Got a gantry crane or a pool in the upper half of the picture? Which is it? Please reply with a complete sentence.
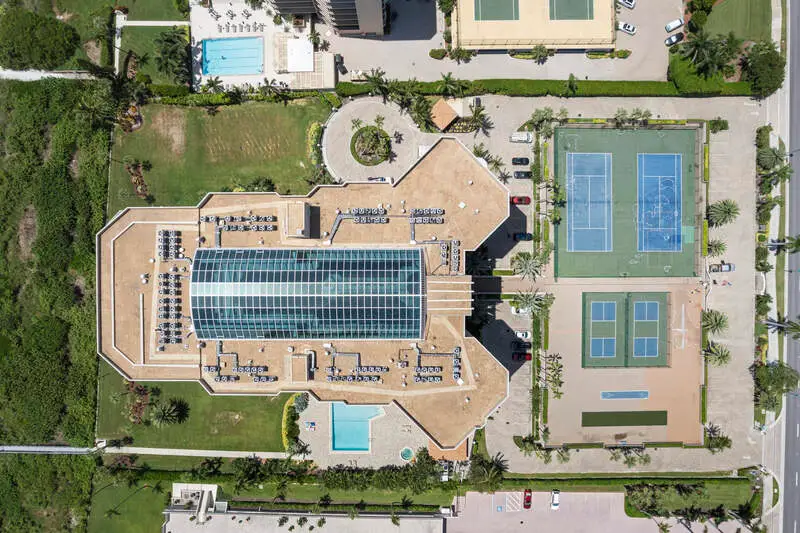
The feature located in the upper half of the picture is a pool.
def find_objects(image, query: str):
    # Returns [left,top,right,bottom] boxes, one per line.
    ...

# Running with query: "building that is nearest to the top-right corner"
[452,0,616,53]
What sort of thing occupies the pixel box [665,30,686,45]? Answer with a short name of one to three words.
car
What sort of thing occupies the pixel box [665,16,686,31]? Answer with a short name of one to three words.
car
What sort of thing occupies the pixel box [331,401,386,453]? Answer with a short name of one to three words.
swimming pool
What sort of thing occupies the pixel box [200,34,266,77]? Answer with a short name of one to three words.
swimming pool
